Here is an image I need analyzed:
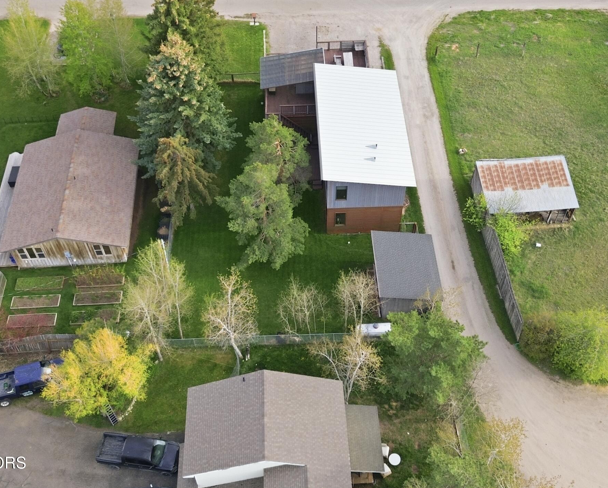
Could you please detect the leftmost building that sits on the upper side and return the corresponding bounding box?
[0,107,140,274]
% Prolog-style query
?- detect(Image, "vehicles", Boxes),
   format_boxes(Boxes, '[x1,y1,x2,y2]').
[0,358,66,403]
[96,434,184,477]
